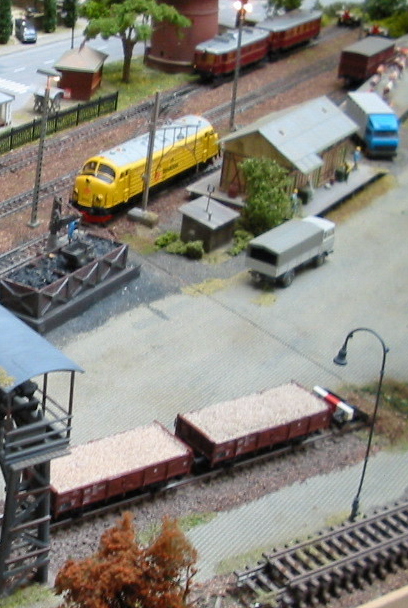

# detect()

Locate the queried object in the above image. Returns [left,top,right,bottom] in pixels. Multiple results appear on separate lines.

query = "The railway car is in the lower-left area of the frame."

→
[20,427,192,523]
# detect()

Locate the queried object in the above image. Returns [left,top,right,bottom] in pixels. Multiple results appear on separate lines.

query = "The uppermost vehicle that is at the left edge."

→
[13,17,38,41]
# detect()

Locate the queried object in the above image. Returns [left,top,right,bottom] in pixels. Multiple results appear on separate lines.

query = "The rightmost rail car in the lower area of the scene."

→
[176,386,332,474]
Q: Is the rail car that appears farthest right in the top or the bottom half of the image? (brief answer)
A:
top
